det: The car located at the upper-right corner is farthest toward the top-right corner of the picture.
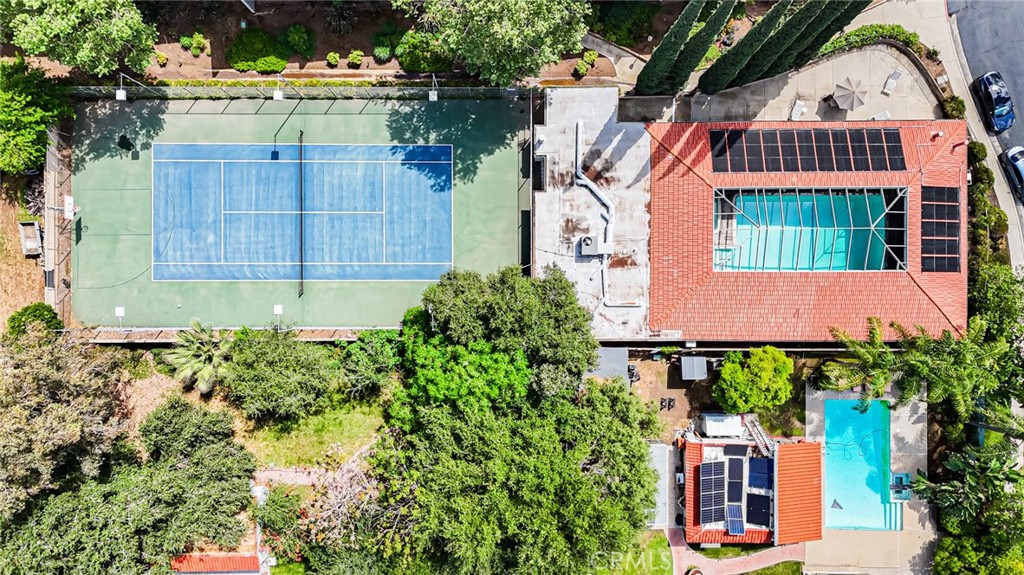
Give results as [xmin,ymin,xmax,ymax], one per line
[974,70,1017,131]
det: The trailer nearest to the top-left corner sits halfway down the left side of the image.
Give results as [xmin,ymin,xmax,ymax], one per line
[11,211,44,255]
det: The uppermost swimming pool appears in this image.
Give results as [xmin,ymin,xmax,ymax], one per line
[715,192,887,270]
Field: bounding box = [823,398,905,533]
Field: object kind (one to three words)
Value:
swimming pool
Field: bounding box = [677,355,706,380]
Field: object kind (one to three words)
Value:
shed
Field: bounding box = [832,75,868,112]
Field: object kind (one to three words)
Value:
umbrella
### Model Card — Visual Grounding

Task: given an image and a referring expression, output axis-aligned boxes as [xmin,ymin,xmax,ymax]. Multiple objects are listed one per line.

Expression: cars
[974,70,1017,131]
[1002,146,1024,205]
